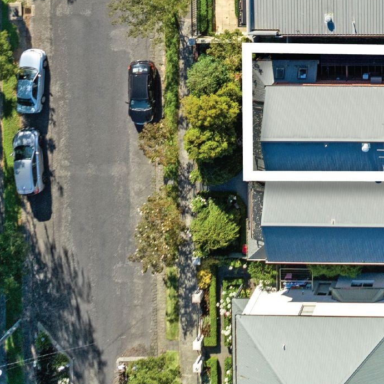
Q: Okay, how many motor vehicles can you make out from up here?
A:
3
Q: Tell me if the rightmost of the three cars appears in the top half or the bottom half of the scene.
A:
top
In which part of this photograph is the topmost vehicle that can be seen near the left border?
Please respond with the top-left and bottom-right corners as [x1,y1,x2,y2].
[15,50,50,116]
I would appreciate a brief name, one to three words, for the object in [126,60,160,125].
car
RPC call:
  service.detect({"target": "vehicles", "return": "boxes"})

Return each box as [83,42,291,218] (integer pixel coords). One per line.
[126,60,160,125]
[14,131,47,199]
[15,50,50,116]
